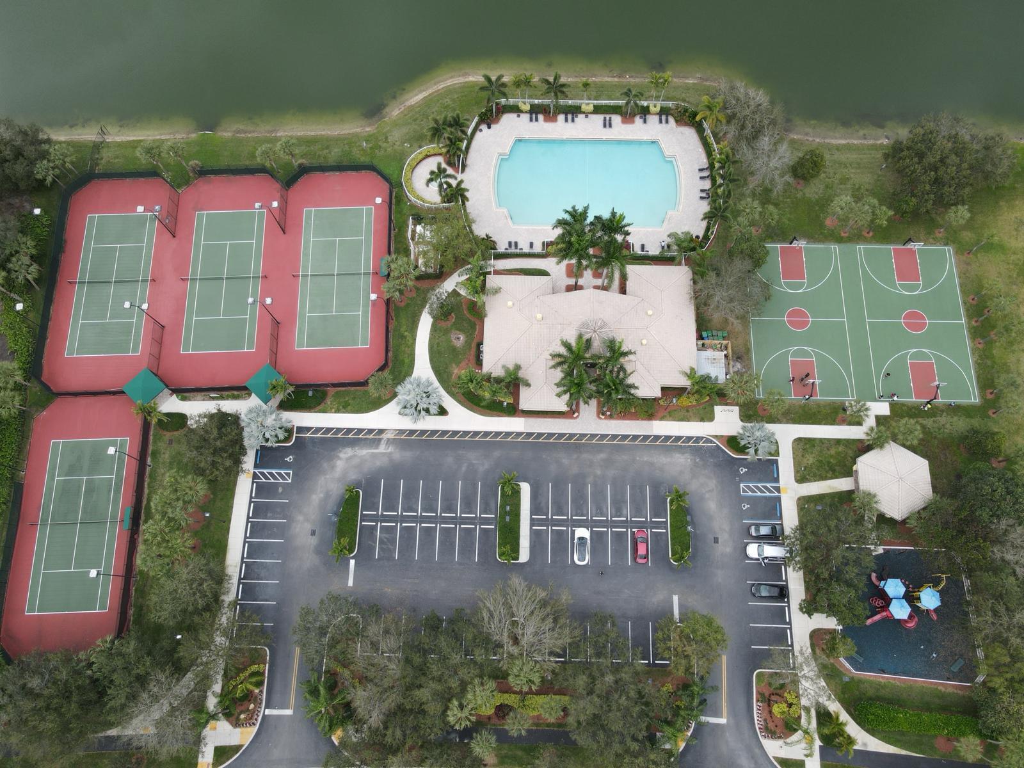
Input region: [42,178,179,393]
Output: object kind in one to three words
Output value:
tennis court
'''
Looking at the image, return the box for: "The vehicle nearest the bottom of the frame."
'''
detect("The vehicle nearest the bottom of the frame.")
[750,582,788,600]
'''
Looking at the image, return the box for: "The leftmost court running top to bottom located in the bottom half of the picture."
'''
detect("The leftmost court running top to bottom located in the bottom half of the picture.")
[0,394,149,662]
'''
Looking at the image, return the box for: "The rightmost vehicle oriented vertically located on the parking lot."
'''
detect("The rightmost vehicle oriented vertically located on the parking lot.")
[633,529,649,564]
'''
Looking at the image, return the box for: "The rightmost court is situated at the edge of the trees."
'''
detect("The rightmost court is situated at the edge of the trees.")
[846,242,982,406]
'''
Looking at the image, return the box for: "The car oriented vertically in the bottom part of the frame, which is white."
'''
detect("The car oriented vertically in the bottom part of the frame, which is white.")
[573,528,590,565]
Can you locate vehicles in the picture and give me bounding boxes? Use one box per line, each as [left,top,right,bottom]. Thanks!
[573,528,590,565]
[747,522,783,539]
[633,529,649,564]
[744,543,786,567]
[750,582,788,600]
